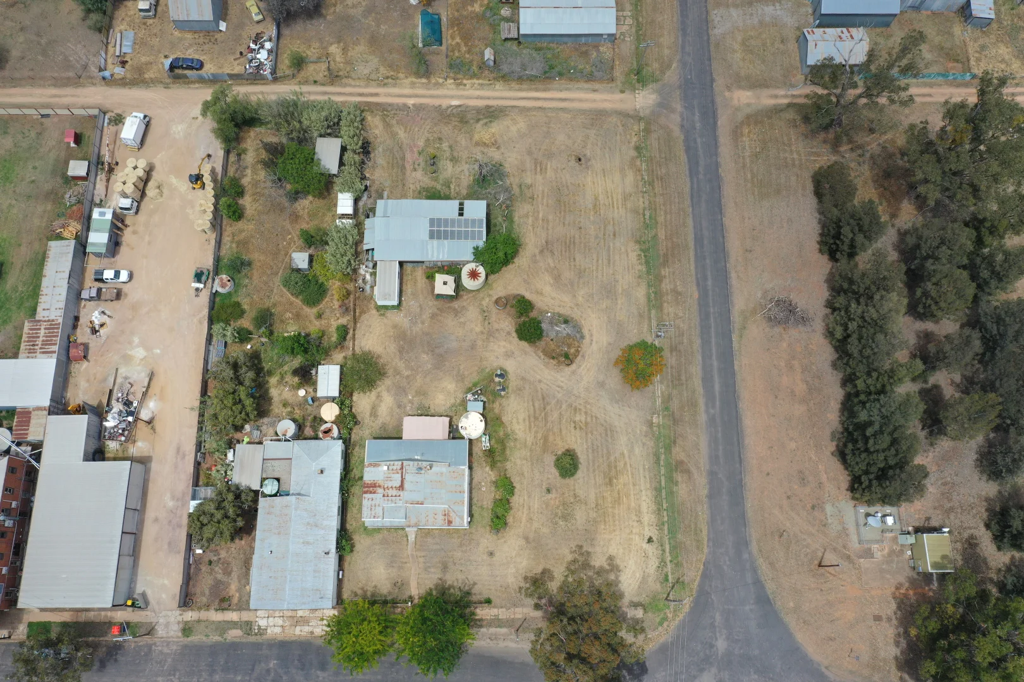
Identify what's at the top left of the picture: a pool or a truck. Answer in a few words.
truck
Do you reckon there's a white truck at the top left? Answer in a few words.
Yes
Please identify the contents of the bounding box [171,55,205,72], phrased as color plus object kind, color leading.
blue car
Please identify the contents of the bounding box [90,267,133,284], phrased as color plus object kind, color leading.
white vehicle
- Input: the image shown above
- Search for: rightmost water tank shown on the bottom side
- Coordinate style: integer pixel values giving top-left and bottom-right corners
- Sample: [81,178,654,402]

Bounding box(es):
[459,412,485,441]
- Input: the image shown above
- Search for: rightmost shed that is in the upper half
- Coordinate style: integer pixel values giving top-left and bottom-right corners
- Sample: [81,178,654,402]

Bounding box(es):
[958,0,995,31]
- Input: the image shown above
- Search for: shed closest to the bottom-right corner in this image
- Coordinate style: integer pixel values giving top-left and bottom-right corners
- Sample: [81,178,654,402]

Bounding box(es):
[913,534,955,573]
